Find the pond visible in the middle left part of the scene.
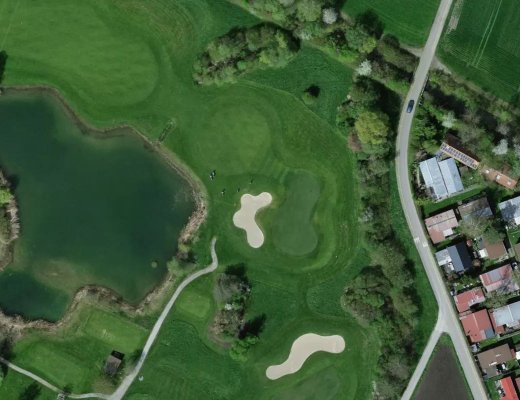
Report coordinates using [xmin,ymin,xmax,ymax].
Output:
[0,99,182,311]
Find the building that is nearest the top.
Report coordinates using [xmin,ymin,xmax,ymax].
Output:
[437,135,483,171]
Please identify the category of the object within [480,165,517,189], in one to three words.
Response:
shed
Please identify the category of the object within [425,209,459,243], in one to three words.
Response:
house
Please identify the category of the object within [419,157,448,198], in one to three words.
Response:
building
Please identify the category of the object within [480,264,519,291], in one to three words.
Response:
house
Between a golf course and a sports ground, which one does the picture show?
golf course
